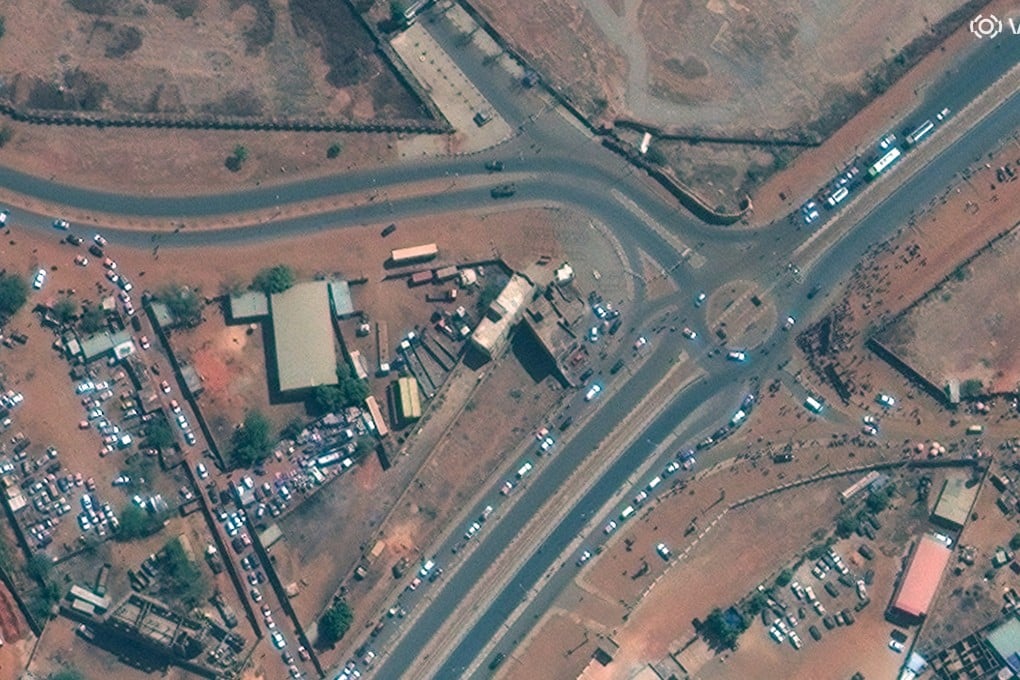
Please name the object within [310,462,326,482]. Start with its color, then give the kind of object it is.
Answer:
white vehicle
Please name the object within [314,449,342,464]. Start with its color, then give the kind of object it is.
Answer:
white vehicle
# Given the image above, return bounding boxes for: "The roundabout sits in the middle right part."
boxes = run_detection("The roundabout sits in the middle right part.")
[707,281,777,349]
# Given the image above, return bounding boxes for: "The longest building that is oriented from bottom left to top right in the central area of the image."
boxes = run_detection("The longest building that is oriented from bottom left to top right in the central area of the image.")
[472,273,538,357]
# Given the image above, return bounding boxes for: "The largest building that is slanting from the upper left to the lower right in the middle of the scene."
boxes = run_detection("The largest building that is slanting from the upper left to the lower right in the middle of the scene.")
[523,295,581,369]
